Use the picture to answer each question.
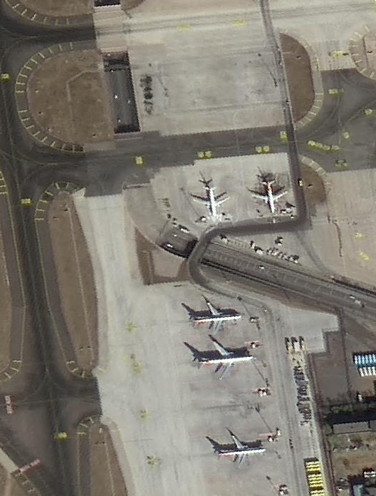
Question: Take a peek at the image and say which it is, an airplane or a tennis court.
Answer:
airplane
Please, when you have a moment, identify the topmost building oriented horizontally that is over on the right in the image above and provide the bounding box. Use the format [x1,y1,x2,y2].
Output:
[333,421,369,433]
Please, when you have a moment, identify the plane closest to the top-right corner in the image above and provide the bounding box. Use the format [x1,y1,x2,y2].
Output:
[251,180,289,214]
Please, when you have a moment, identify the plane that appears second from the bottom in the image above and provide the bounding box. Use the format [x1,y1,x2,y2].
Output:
[199,343,254,380]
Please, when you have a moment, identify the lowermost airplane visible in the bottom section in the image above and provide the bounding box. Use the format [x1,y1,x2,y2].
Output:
[215,434,265,470]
